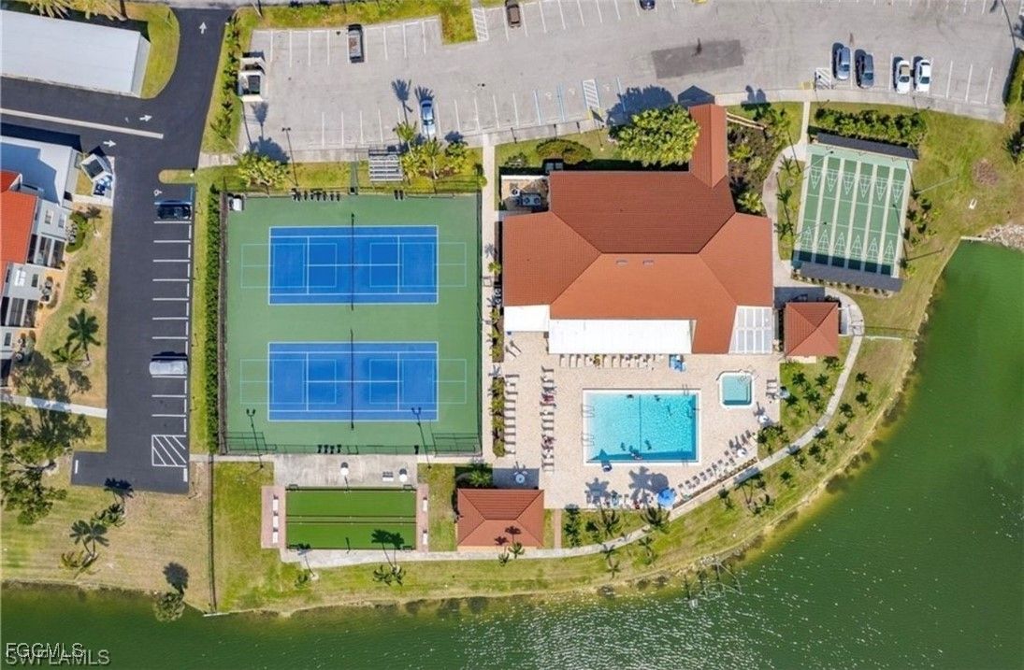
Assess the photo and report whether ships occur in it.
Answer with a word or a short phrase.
No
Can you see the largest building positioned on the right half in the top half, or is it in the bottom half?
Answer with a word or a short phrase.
top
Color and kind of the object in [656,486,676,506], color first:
blue umbrella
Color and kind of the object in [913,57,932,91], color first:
white car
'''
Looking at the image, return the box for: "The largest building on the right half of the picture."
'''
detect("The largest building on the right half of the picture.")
[502,104,774,355]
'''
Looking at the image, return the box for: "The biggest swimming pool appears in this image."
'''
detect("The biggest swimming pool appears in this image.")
[581,386,704,469]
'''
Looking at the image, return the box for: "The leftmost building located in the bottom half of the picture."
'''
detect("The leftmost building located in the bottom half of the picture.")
[457,488,545,552]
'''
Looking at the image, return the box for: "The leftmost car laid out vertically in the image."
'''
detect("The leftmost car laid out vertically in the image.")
[347,26,364,60]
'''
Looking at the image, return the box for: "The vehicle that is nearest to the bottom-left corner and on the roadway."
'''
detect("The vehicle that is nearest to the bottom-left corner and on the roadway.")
[146,357,190,375]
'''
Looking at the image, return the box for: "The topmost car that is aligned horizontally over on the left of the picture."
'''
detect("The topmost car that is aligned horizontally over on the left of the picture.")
[156,203,190,218]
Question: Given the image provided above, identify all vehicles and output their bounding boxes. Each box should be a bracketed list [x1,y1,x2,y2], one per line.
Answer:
[834,44,853,79]
[893,58,912,92]
[146,357,190,375]
[855,52,875,87]
[156,203,190,218]
[506,0,521,28]
[420,100,437,137]
[913,57,932,91]
[347,26,364,60]
[642,0,656,12]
